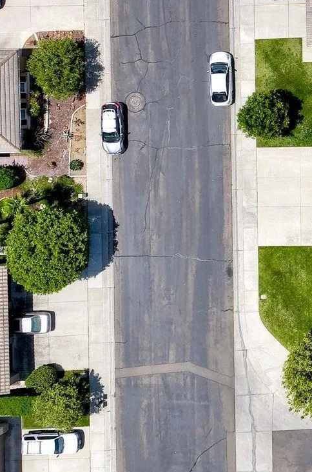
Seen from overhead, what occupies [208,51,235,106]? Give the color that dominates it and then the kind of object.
white car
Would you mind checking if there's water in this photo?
No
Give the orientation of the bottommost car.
horizontally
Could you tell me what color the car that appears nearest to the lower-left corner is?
white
